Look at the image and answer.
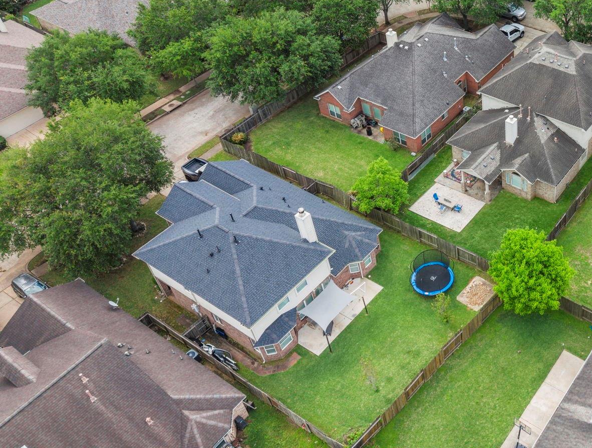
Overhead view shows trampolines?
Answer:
Yes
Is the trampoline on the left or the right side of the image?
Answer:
right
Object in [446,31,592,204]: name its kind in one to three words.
house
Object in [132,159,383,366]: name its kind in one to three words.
house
